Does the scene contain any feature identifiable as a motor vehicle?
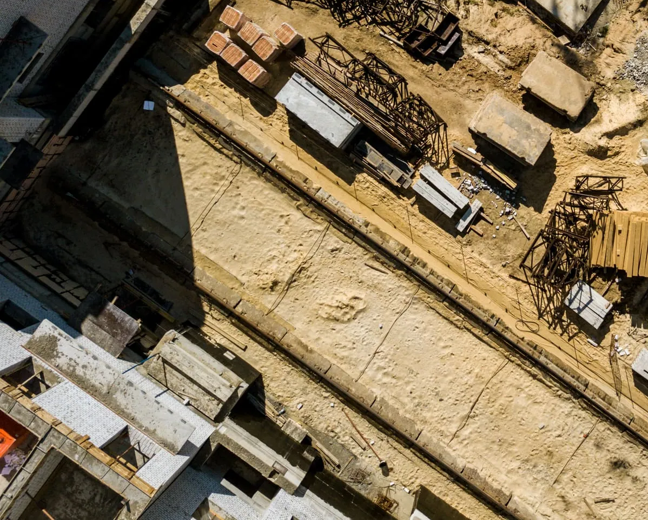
No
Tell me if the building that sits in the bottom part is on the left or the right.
left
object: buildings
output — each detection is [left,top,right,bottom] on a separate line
[0,0,139,227]
[0,226,399,520]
